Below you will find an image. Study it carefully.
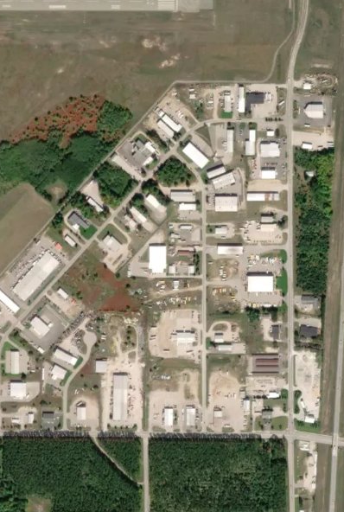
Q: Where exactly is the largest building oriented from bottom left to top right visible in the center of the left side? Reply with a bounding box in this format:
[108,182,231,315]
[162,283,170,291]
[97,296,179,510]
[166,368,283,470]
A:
[12,252,59,301]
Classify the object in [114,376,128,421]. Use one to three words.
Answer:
building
